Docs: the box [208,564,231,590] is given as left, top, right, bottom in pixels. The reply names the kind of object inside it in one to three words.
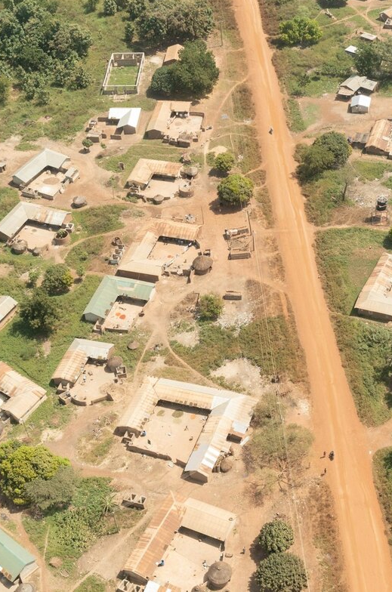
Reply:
shed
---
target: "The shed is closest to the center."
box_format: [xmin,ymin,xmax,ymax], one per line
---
[192,258,214,278]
